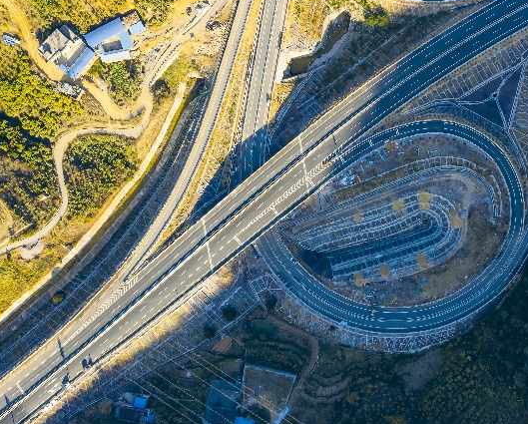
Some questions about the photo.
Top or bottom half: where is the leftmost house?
top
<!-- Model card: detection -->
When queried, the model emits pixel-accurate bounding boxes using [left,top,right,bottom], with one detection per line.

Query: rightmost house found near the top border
[83,11,145,62]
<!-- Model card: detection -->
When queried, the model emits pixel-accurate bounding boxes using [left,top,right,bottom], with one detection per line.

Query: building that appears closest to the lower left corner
[113,395,155,424]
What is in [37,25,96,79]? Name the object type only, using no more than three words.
house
